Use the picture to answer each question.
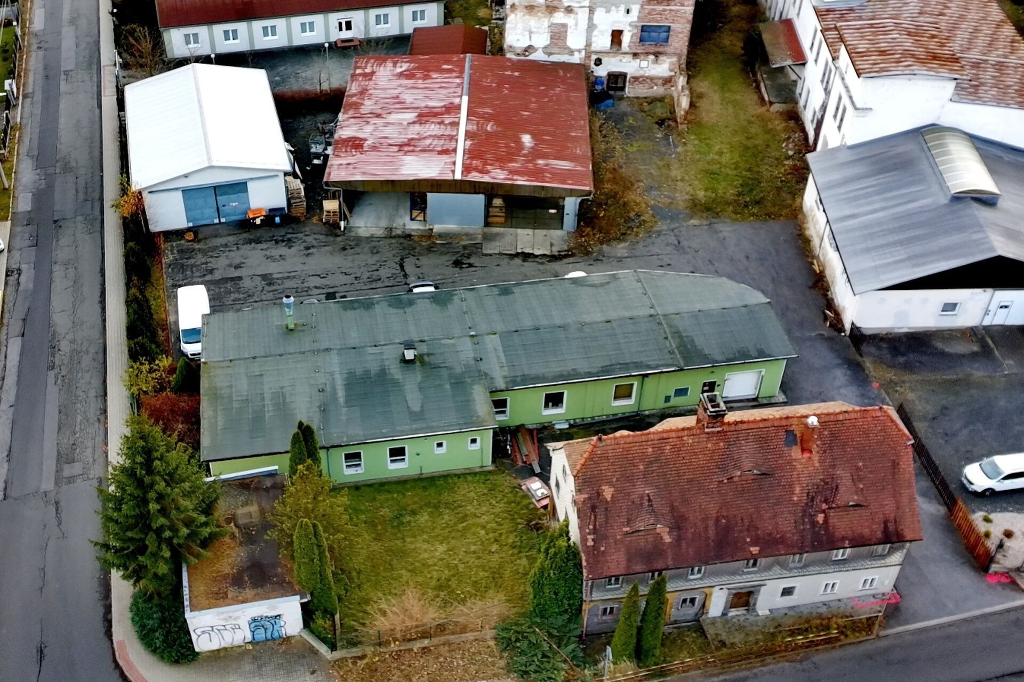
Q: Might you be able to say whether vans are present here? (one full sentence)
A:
Yes, this view includes a van.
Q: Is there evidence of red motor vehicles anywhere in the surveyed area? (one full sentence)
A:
No, there isn't any red motor vehicle down there.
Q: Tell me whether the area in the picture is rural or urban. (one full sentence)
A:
This place is urban.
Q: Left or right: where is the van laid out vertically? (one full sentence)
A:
The van laid out vertically is on the left side of the image.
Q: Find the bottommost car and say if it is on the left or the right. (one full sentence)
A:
You can find the bottommost car on the right side of the picture.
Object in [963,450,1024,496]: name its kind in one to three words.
car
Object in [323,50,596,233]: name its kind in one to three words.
shed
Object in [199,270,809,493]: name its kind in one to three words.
building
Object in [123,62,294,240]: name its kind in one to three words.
barn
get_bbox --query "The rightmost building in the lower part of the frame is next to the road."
[545,396,926,634]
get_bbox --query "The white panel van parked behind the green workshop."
[173,289,214,364]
